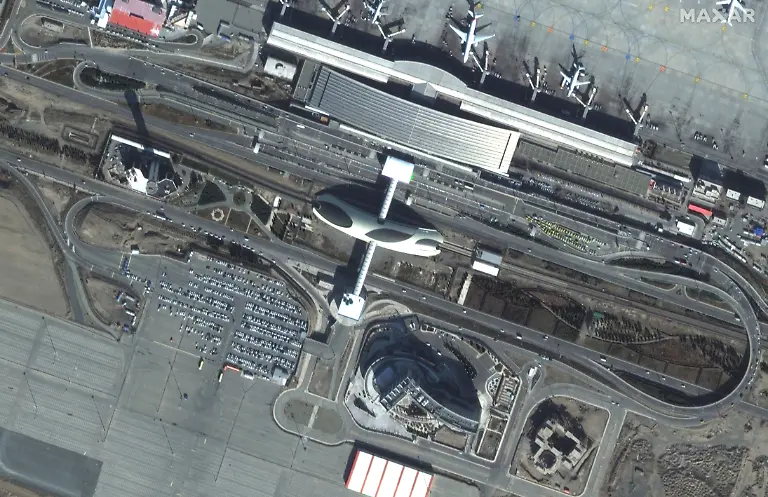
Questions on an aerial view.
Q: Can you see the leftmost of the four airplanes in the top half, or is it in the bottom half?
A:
top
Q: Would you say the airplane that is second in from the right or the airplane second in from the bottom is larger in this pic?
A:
the airplane second in from the bottom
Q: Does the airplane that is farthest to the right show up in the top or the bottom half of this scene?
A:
top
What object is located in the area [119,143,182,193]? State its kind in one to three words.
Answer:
building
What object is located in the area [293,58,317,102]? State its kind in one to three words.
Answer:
building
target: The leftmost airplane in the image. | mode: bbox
[364,0,394,23]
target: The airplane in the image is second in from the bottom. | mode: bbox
[448,14,494,63]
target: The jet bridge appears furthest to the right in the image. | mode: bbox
[625,105,649,135]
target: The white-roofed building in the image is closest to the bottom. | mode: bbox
[346,448,435,497]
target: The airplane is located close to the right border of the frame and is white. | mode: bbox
[716,0,748,24]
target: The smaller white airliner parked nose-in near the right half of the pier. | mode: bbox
[560,66,590,97]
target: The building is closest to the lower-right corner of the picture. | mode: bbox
[536,414,584,472]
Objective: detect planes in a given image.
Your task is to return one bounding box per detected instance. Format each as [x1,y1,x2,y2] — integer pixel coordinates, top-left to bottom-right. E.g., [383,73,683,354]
[364,0,394,23]
[448,14,494,63]
[560,66,590,97]
[716,0,748,24]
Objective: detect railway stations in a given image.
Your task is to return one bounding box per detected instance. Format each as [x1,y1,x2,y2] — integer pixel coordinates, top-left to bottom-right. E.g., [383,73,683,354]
[313,202,445,253]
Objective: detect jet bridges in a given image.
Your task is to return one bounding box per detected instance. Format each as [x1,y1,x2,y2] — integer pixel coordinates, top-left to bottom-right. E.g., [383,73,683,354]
[322,4,350,33]
[625,105,649,135]
[281,0,291,16]
[375,20,407,51]
[470,49,490,82]
[572,85,596,118]
[524,66,542,100]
